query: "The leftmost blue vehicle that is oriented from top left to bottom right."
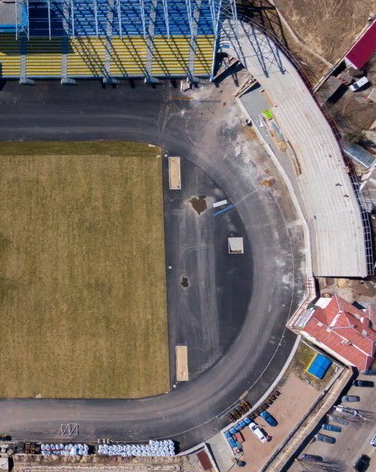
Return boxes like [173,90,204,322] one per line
[261,411,279,428]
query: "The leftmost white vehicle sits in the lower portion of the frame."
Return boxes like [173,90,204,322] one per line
[251,424,268,442]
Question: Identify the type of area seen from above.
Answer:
sports ground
